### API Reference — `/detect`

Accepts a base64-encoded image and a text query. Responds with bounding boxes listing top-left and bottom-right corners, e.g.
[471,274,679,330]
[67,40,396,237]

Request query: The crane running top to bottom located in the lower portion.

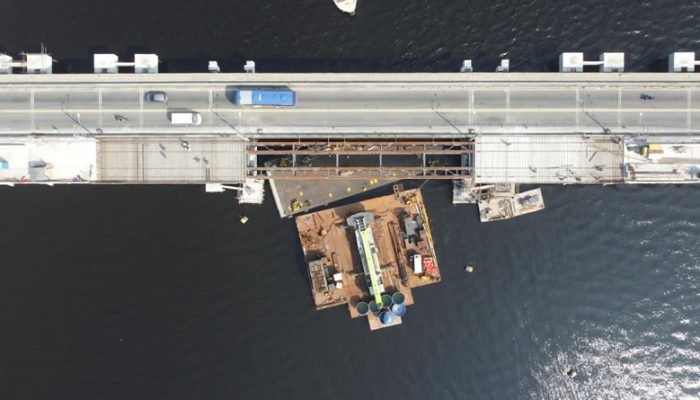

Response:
[348,213,389,312]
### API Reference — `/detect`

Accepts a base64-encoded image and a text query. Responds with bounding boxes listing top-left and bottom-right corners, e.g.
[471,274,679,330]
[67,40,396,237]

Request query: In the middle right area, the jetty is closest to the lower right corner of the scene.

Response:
[513,188,545,216]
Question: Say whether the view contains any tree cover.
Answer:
No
